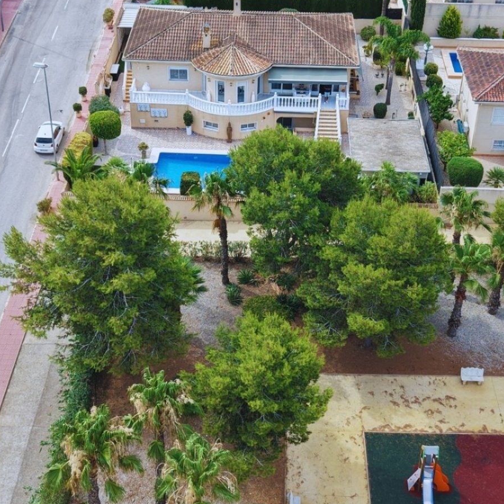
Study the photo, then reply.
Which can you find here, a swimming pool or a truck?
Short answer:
swimming pool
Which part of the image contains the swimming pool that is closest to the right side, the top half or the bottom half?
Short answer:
top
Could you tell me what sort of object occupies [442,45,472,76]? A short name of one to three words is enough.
swimming pool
